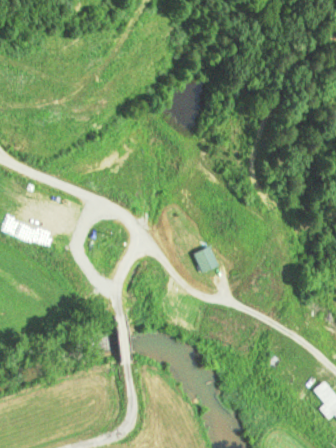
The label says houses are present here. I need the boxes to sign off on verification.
[314,382,336,420]
[194,247,218,273]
